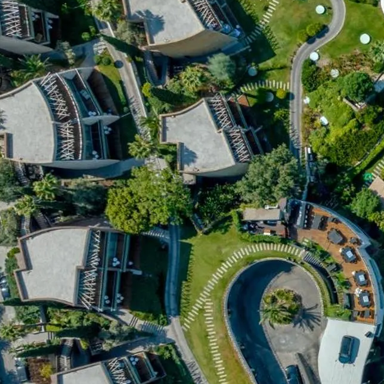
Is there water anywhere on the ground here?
No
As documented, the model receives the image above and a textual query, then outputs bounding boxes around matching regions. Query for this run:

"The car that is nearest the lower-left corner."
[7,357,27,384]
